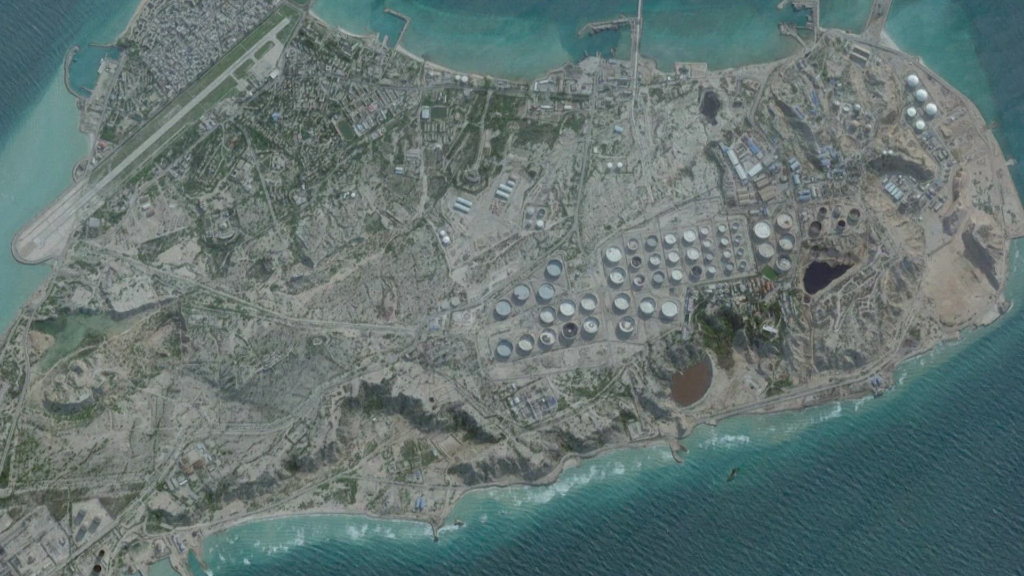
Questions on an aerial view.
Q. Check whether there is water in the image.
Yes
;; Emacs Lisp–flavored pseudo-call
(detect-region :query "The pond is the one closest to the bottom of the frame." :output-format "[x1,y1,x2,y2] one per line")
[670,354,713,407]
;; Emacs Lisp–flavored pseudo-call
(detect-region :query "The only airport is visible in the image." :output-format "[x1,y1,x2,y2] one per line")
[14,4,299,262]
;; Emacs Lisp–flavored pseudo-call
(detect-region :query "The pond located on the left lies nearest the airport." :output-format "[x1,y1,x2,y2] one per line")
[32,314,131,368]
